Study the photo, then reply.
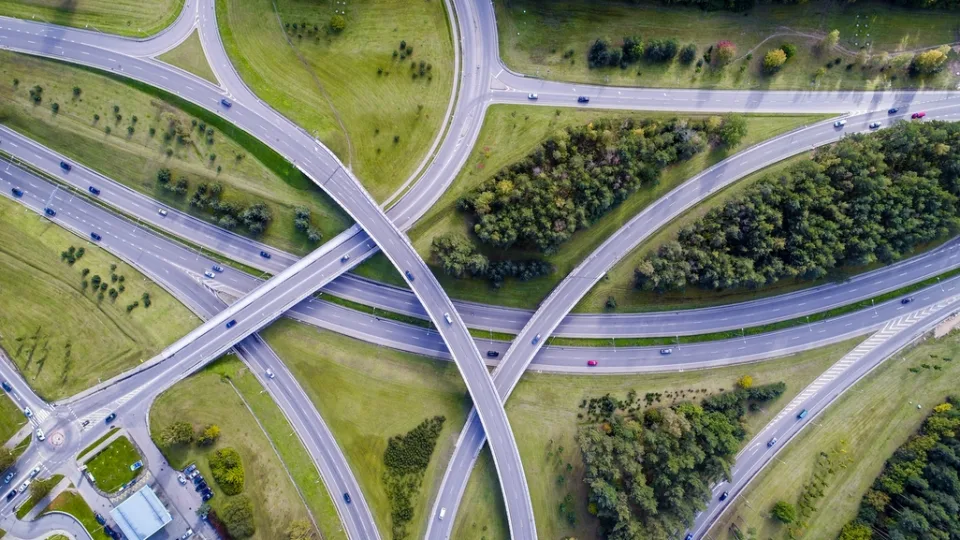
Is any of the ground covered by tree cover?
Yes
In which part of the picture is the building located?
bottom left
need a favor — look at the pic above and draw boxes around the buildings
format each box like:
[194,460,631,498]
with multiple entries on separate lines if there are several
[110,483,174,540]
